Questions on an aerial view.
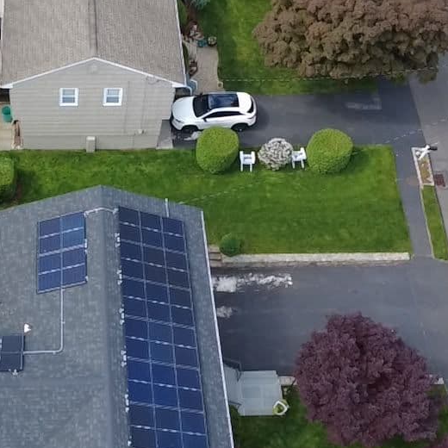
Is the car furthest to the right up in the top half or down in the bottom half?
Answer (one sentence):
The top half of the photo is where the car furthest to the right is.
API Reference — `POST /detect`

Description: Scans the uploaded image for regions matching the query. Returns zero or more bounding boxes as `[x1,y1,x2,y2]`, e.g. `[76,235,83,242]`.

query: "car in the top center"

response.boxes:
[172,93,260,136]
